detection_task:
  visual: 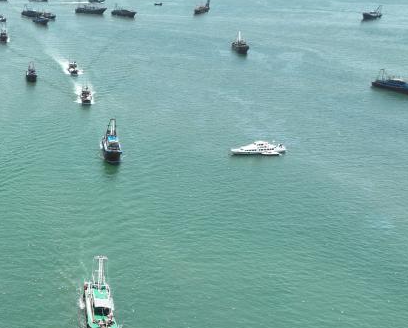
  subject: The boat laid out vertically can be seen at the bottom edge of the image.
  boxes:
[82,258,115,328]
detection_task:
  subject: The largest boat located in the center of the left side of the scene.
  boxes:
[100,119,121,162]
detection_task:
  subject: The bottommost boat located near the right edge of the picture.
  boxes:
[366,63,408,93]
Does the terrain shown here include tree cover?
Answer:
No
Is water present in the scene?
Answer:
Yes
